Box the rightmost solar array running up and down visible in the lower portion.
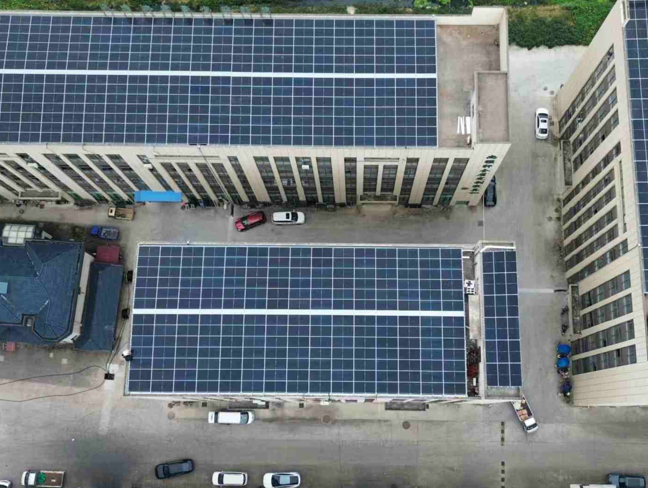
[483,250,521,387]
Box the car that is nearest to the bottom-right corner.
[607,471,647,488]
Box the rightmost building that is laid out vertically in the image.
[556,0,648,408]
